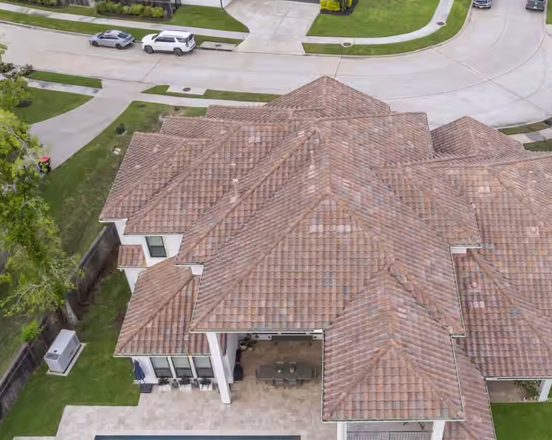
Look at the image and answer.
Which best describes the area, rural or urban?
urban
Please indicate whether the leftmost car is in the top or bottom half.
top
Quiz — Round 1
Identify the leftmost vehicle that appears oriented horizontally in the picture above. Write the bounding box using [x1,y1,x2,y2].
[84,29,133,50]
